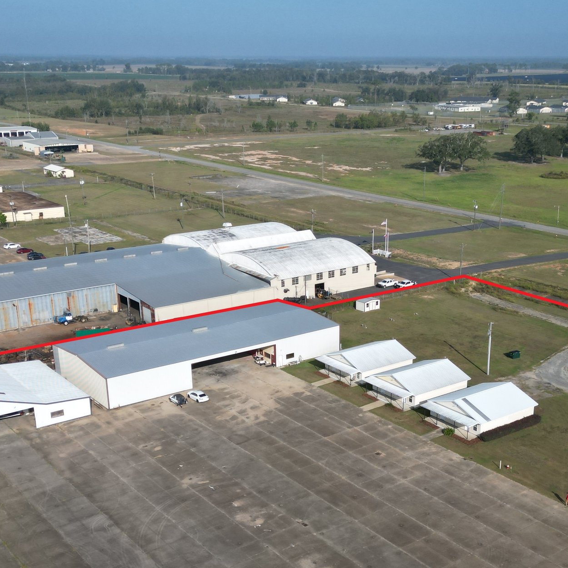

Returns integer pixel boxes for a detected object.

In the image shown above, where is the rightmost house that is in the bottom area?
[417,381,536,440]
